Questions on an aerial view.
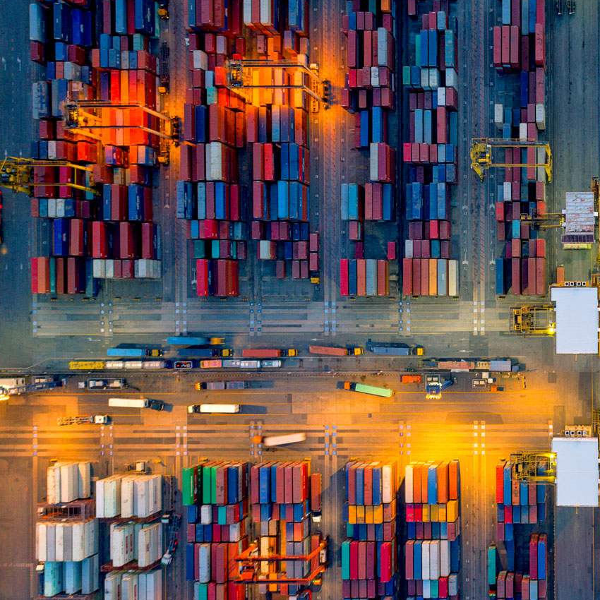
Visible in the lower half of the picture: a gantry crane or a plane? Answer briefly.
gantry crane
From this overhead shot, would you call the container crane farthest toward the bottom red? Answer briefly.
Yes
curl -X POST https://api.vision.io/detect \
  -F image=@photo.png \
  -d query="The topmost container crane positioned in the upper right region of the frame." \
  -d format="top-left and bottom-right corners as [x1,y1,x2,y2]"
[469,138,554,184]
